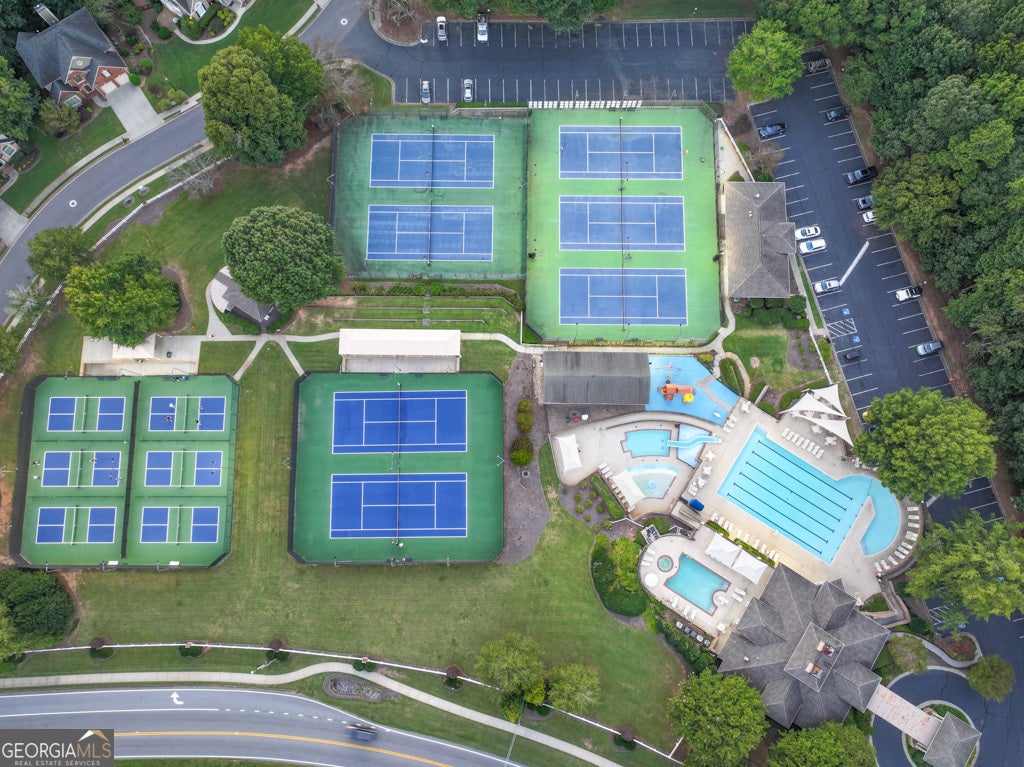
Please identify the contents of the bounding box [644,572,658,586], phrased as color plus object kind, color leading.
white umbrella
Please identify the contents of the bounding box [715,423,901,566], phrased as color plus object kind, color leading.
blue swimming pool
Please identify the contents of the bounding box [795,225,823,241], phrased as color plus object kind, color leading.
white car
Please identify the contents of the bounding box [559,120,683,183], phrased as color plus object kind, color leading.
blue tennis court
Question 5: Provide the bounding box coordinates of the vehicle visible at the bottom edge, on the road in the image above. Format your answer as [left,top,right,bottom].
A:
[344,724,380,744]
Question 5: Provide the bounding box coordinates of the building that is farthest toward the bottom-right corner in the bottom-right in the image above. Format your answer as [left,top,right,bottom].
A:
[717,562,891,730]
